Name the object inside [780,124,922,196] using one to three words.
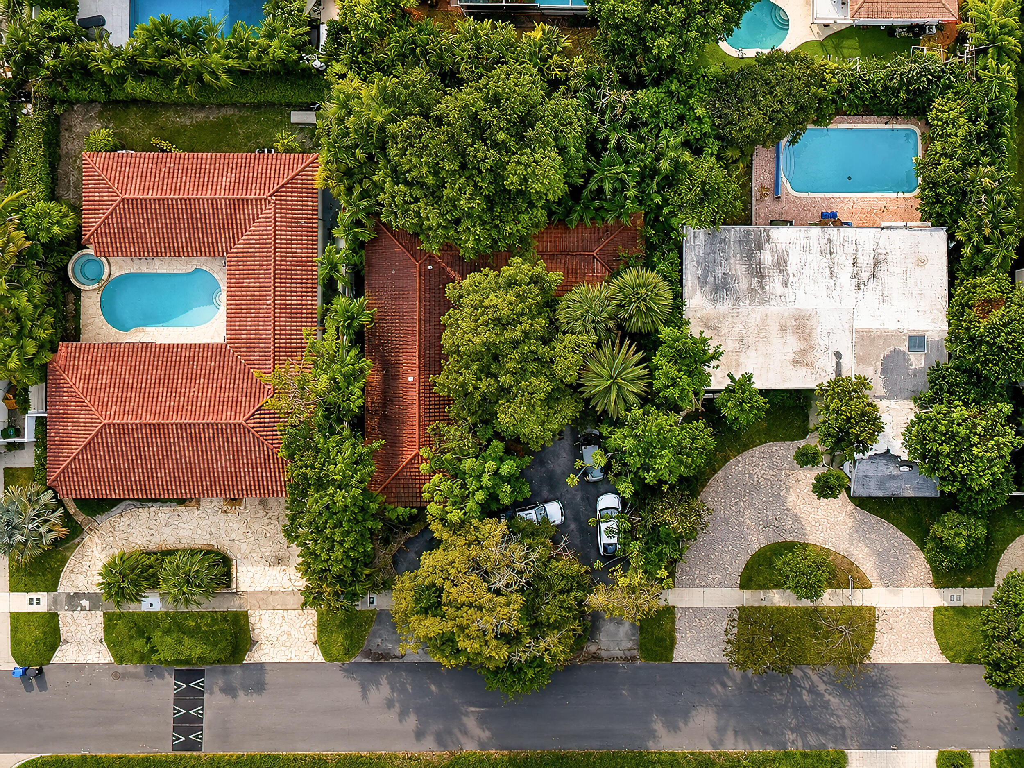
swimming pool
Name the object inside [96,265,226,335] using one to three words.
swimming pool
